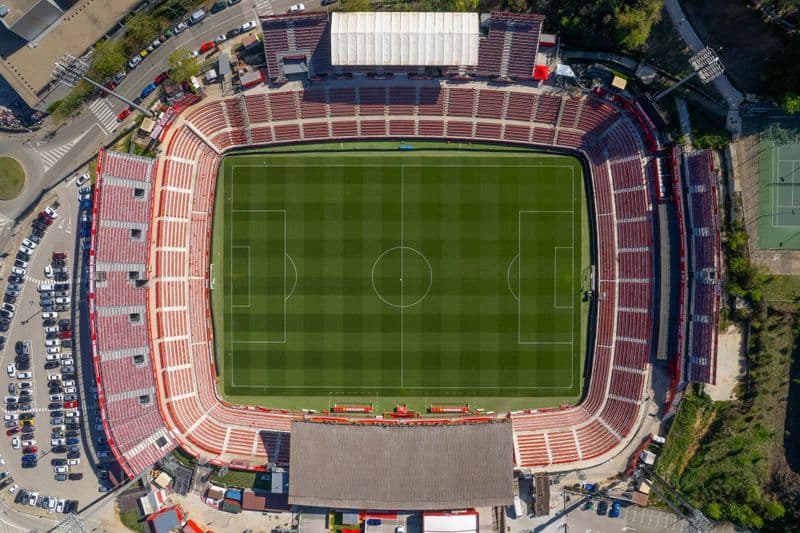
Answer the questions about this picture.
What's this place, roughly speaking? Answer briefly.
sports ground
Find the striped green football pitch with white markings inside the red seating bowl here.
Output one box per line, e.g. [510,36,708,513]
[212,138,595,417]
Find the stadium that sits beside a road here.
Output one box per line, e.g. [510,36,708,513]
[91,7,722,510]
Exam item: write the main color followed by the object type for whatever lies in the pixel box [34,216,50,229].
black vehicle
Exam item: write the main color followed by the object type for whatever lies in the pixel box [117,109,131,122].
red vehicle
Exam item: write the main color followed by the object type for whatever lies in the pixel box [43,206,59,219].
white vehicle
